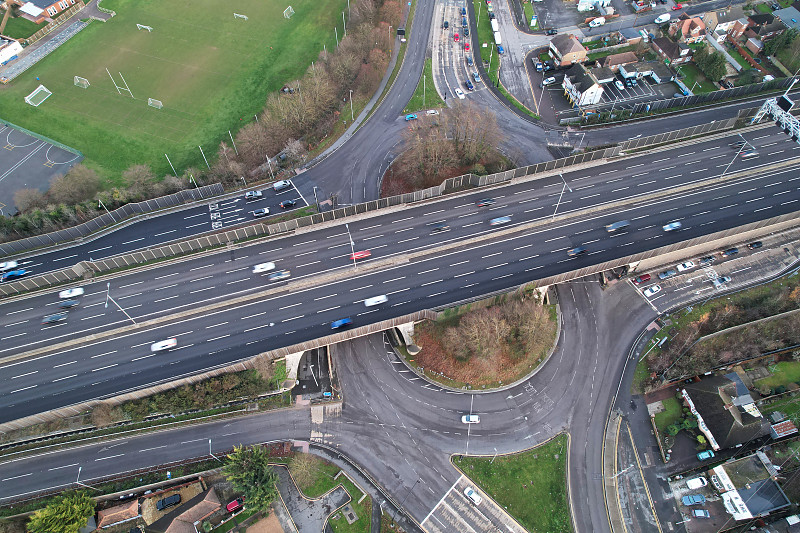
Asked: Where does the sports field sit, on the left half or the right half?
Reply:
left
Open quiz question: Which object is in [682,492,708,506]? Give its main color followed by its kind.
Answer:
blue vehicle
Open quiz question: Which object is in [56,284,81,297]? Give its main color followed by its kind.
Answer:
white vehicle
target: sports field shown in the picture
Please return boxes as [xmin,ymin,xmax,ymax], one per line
[0,0,347,199]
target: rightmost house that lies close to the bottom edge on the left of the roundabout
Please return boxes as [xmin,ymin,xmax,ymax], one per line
[162,485,226,533]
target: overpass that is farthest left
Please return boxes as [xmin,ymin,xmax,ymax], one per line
[284,208,420,396]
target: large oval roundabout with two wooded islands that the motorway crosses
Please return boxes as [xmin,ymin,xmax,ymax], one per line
[288,0,662,533]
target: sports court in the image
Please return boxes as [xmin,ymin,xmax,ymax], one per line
[0,121,83,220]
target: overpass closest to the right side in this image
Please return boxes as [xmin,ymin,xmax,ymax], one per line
[503,160,644,305]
